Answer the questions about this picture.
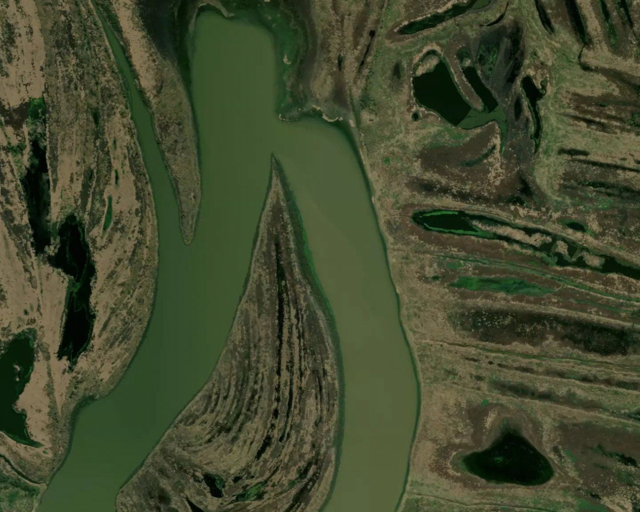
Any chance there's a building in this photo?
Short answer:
No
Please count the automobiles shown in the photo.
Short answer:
zero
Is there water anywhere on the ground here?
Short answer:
Yes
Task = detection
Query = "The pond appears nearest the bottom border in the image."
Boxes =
[462,430,552,485]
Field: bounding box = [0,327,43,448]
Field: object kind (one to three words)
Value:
pond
